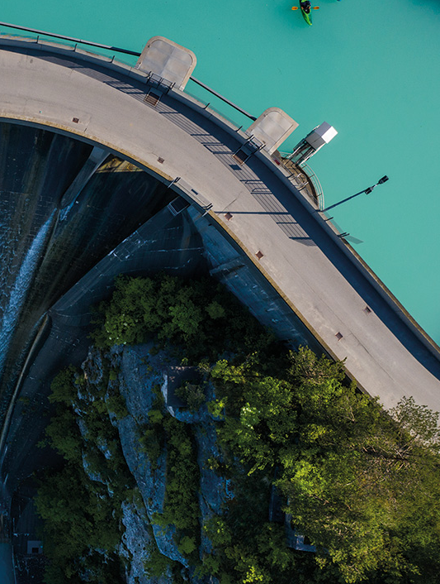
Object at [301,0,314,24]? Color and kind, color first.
green boat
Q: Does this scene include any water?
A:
Yes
